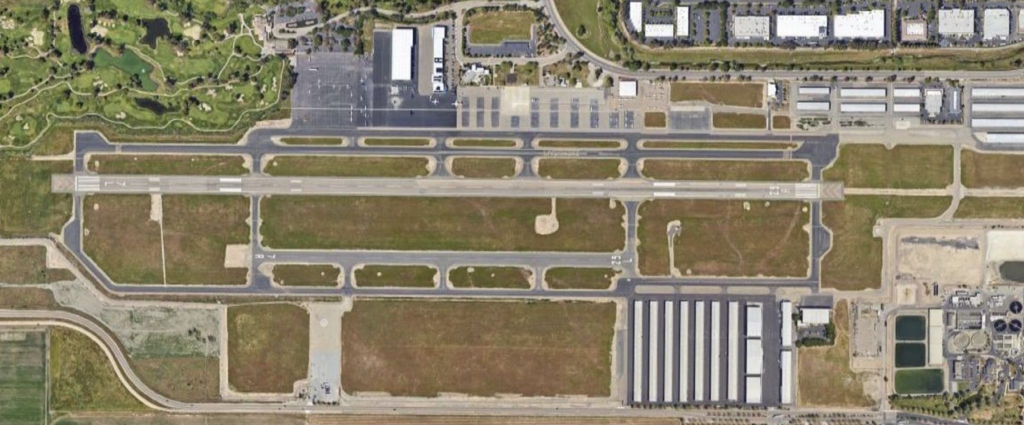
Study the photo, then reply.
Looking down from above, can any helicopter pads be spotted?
Yes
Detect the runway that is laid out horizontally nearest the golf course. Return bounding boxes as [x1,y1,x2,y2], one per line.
[52,174,844,200]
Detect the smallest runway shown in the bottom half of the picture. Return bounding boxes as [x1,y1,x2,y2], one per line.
[253,251,637,277]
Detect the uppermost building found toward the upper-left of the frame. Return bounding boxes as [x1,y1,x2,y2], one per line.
[253,14,271,40]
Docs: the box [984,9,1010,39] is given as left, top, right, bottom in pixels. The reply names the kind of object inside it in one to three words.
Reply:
building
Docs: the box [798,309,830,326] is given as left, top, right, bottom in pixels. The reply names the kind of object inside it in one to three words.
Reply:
hangar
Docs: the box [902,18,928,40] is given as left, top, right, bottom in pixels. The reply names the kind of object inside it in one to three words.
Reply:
building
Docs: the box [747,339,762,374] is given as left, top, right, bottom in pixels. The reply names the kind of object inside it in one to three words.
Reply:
hangar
